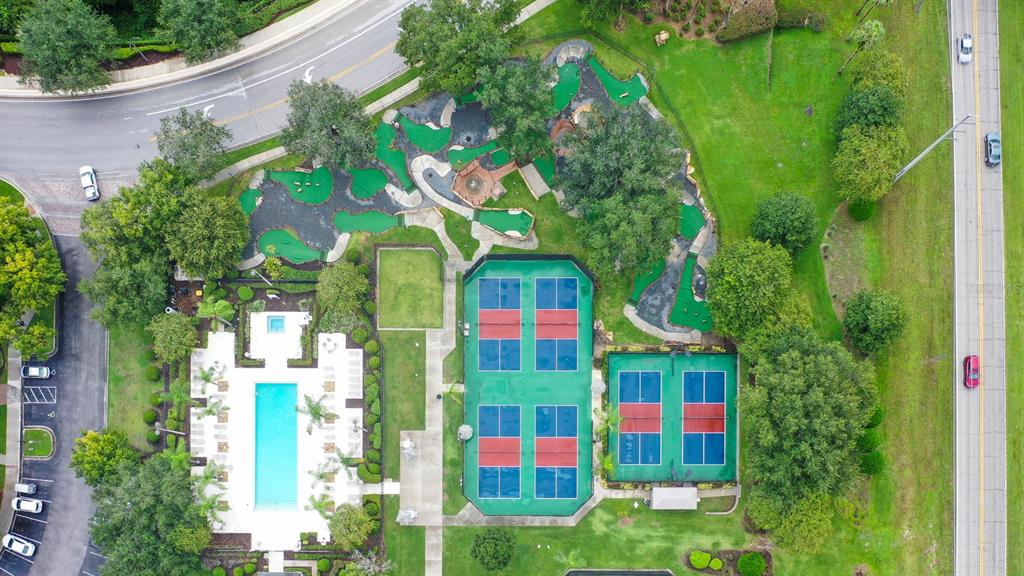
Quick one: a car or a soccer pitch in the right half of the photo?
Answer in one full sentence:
It is a car that can be seen in the right half of the photo.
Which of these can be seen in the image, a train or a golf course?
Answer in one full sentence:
The one in the frame is a golf course.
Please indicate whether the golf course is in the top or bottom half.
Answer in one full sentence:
You can find the golf course in the top half.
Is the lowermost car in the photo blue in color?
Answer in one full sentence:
No, the lowermost car is white.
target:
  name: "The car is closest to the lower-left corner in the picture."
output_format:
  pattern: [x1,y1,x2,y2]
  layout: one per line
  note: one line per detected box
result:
[1,535,38,556]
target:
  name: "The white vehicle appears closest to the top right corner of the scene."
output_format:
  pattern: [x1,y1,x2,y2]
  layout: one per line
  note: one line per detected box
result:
[955,32,974,67]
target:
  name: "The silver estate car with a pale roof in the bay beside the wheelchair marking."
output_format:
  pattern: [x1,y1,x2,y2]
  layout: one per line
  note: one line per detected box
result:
[17,364,53,380]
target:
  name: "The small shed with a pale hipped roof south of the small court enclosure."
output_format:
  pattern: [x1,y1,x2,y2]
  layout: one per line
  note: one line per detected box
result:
[651,488,696,509]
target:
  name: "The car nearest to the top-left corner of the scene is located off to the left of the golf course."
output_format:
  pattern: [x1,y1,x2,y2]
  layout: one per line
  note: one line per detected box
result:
[78,165,100,203]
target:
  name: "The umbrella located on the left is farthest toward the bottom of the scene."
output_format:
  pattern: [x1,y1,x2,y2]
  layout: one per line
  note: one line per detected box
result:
[399,508,415,524]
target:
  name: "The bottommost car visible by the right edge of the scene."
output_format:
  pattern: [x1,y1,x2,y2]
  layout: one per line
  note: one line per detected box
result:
[961,355,982,388]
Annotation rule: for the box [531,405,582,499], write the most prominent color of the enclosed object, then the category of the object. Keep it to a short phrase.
blue sports court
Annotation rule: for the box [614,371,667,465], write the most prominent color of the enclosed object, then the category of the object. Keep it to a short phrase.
blue sports court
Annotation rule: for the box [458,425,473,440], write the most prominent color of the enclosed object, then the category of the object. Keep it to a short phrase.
white umbrella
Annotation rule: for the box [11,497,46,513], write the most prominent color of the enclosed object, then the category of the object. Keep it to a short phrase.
white car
